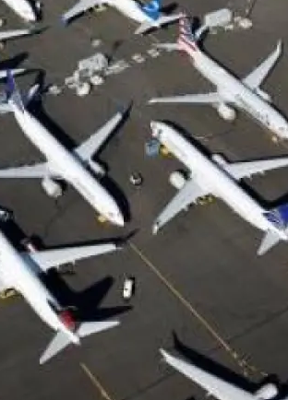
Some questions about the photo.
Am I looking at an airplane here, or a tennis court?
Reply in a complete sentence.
This aerial view contains an airplane.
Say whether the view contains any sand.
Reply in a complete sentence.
No, no sand is visible.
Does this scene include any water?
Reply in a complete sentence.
No, there's no water in this view.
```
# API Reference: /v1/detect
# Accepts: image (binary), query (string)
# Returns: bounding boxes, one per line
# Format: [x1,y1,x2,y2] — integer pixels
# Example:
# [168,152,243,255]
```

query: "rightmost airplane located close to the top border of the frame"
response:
[154,15,288,139]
